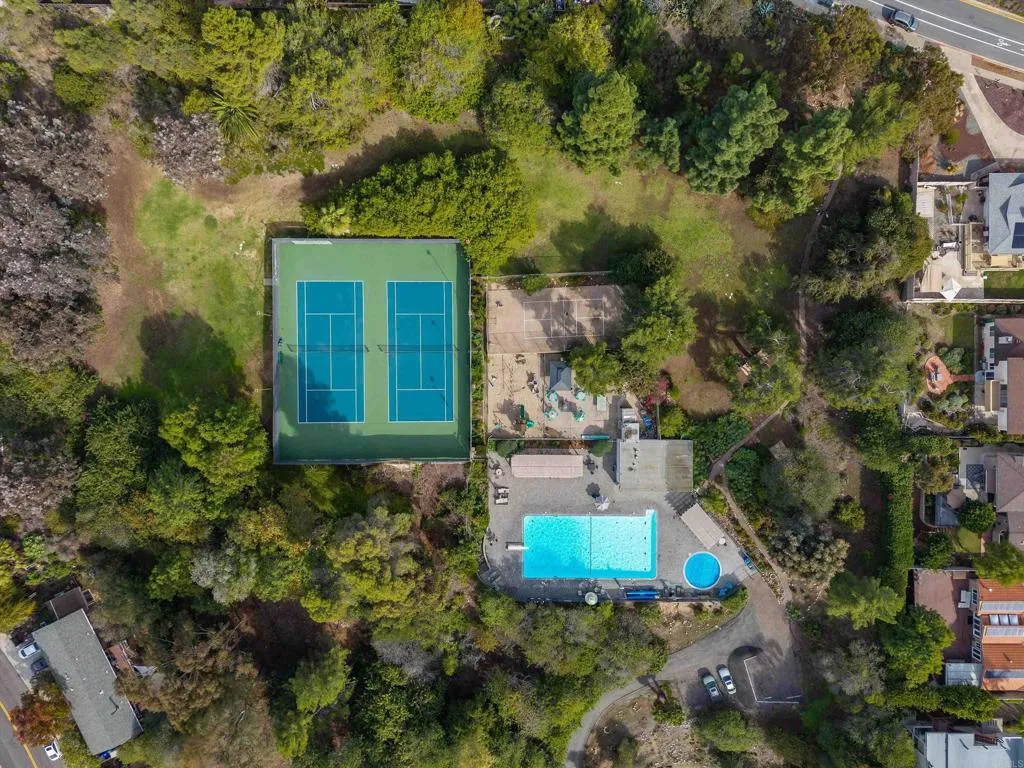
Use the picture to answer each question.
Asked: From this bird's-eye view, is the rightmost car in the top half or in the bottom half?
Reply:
top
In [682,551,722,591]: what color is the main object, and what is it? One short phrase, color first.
blue swimming pool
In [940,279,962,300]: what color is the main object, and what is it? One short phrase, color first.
white umbrella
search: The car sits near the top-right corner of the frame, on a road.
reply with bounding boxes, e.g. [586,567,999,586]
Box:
[891,7,920,29]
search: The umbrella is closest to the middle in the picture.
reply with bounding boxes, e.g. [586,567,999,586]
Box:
[595,497,609,510]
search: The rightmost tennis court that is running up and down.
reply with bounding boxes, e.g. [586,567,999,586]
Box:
[375,242,469,461]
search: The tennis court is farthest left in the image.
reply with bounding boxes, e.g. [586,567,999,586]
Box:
[278,243,376,461]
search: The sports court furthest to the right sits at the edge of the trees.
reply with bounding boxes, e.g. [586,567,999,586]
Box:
[487,284,625,352]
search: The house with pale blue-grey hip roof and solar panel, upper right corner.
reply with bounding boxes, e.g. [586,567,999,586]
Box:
[978,174,1024,255]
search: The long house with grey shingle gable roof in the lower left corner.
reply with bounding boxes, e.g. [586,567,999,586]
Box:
[32,583,145,754]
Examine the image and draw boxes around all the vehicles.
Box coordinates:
[718,667,738,696]
[891,7,920,29]
[702,673,725,702]
[13,641,41,661]
[39,738,61,765]
[24,657,49,676]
